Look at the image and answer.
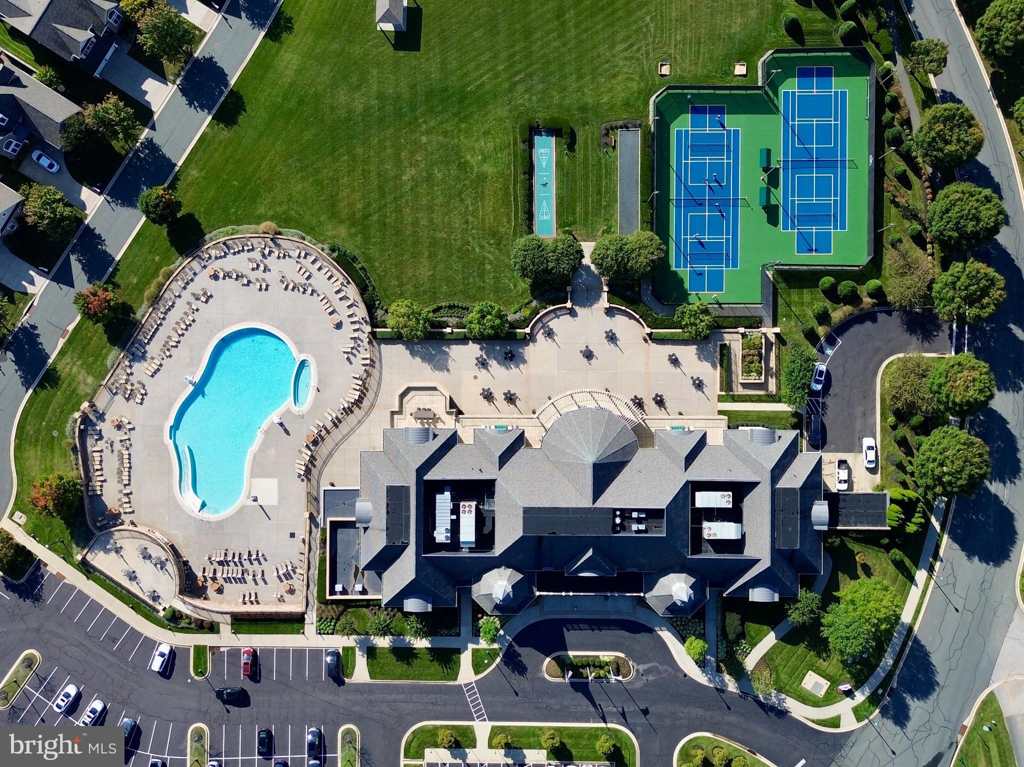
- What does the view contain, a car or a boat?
car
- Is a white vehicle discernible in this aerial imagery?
Yes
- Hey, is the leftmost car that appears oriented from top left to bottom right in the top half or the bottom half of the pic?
top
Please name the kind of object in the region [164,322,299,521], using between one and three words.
swimming pool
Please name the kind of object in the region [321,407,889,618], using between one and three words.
building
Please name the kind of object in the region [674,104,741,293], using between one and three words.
tennis court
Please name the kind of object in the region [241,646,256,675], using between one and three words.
car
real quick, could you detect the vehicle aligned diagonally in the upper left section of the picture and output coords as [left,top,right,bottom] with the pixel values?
[32,149,61,174]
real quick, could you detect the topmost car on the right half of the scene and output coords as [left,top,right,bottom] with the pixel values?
[810,362,827,392]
